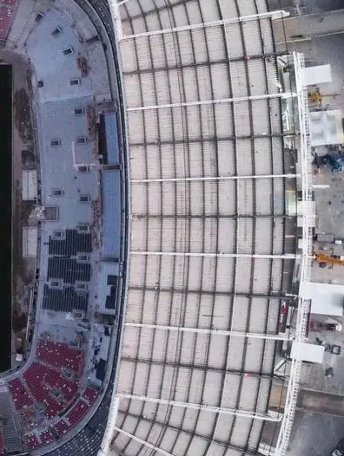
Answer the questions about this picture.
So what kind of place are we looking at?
sports ground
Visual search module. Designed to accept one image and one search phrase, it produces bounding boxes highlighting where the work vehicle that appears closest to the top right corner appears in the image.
[308,85,342,110]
